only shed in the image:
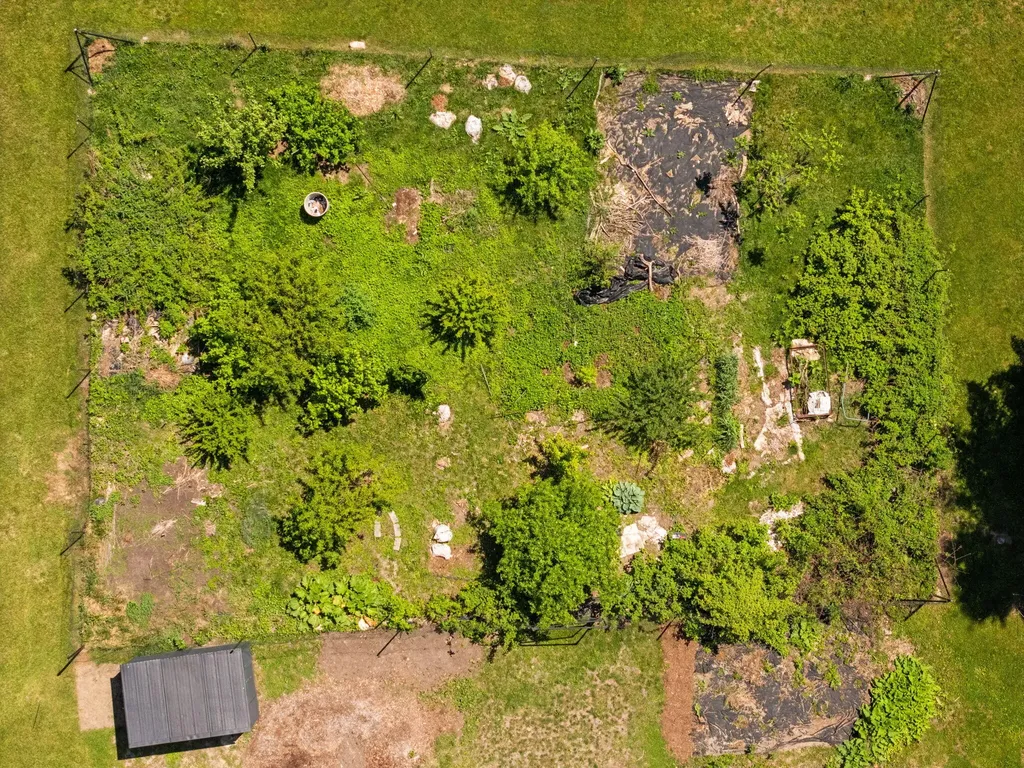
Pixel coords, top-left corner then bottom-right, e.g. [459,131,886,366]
[118,643,258,748]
